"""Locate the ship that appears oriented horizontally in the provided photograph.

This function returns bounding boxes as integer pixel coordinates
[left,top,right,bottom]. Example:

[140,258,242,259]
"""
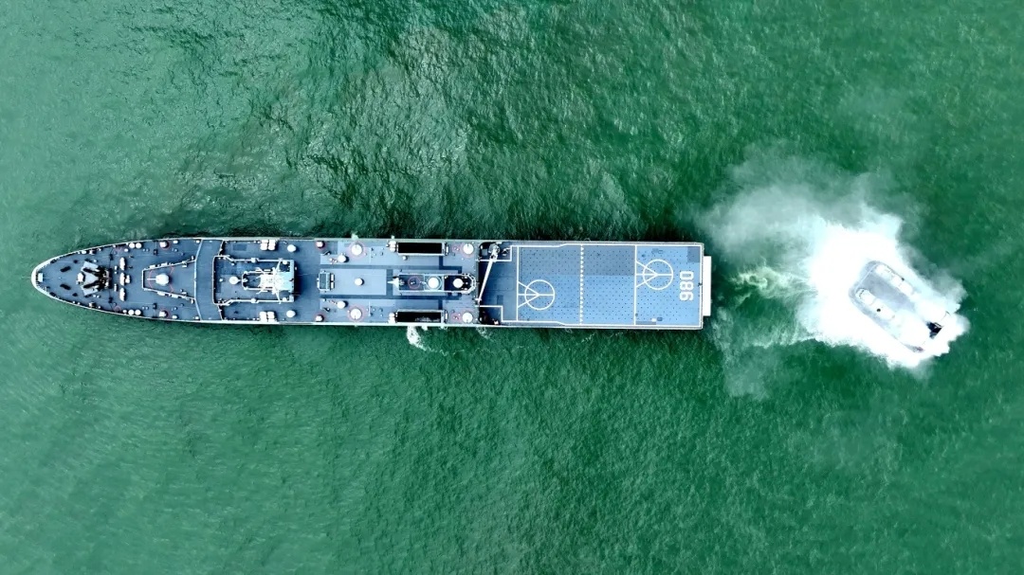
[23,235,711,331]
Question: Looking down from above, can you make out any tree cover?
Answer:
No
